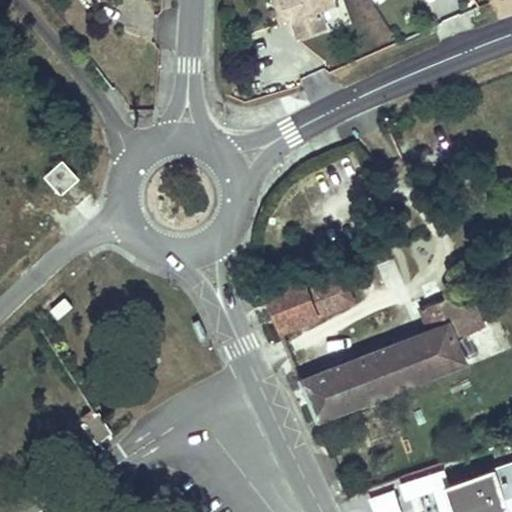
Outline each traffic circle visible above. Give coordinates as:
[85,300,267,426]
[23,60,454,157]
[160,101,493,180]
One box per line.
[98,121,283,284]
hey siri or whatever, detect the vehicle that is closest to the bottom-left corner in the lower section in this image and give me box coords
[180,478,197,494]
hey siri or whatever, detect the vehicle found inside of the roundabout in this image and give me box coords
[166,254,184,272]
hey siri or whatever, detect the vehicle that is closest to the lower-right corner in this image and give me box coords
[462,338,476,358]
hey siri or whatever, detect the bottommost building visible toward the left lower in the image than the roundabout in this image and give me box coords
[80,412,112,444]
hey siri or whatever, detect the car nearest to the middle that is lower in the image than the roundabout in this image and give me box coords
[224,288,236,308]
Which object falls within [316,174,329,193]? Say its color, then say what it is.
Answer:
white vehicle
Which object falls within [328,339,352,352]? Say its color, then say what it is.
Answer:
white vehicle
